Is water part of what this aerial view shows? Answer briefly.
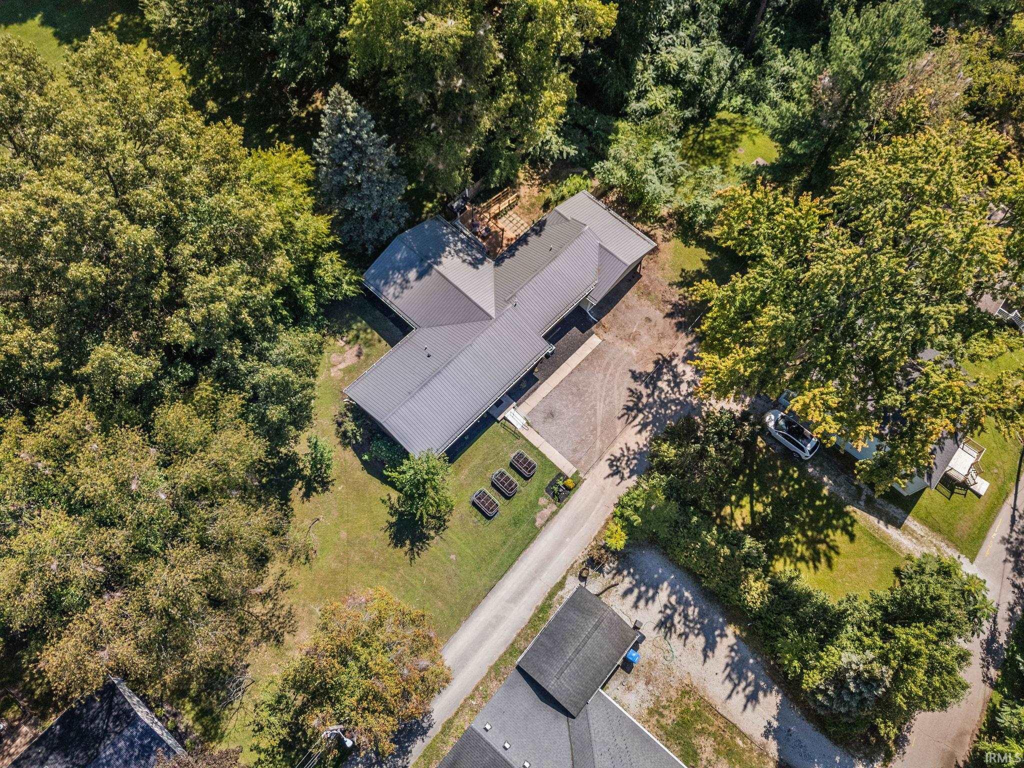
No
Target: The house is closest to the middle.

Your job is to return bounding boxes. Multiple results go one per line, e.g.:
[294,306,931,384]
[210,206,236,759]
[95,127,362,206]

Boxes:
[343,192,658,470]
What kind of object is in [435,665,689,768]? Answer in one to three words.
house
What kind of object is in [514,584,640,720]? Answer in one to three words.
building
